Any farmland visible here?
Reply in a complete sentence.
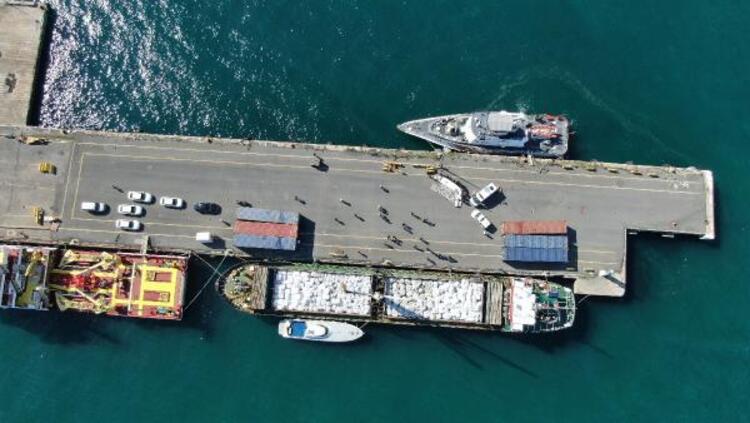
No, no farmland is visible.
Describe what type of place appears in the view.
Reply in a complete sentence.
This looks like a port.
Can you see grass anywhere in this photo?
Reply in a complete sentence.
No, there's no grass in this view.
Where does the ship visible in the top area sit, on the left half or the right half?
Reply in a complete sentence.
The ship visible in the top area sits on the right side.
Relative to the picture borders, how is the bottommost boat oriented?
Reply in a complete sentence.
The bottommost boat has been laid out from side to side relative to the frame.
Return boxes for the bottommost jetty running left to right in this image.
[0,126,716,296]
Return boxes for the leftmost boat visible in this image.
[0,244,53,310]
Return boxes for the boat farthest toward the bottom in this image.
[278,318,364,342]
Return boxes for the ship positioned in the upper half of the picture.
[398,110,577,159]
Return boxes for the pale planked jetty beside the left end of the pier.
[0,0,53,128]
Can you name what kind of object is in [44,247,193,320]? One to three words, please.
ship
